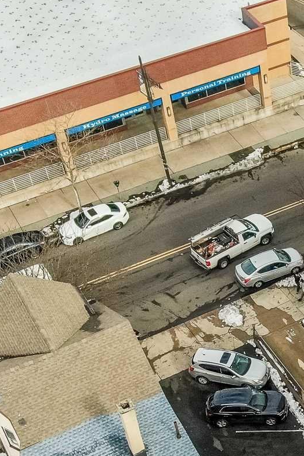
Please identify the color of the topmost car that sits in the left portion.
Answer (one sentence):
From above, the topmost car that sits in the left portion appears white.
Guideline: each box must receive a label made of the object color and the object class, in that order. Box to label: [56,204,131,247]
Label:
white car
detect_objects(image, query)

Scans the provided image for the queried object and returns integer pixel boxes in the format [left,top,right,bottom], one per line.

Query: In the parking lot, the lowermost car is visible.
[204,385,287,427]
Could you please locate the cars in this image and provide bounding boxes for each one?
[0,232,44,269]
[231,248,304,291]
[56,204,131,247]
[186,346,268,388]
[204,385,287,427]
